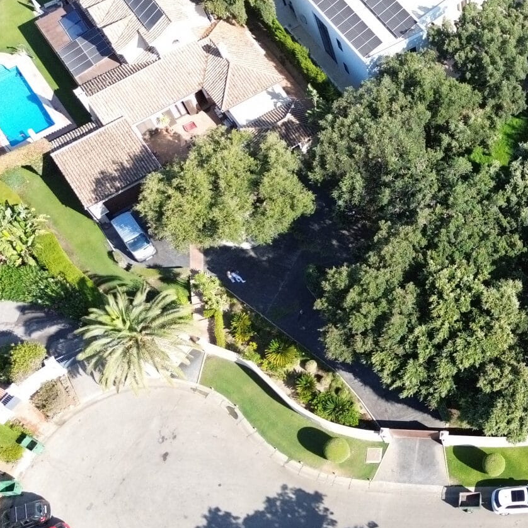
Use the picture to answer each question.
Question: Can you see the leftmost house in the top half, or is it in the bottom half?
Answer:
top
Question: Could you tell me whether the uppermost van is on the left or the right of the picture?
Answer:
left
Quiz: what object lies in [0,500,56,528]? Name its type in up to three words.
car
